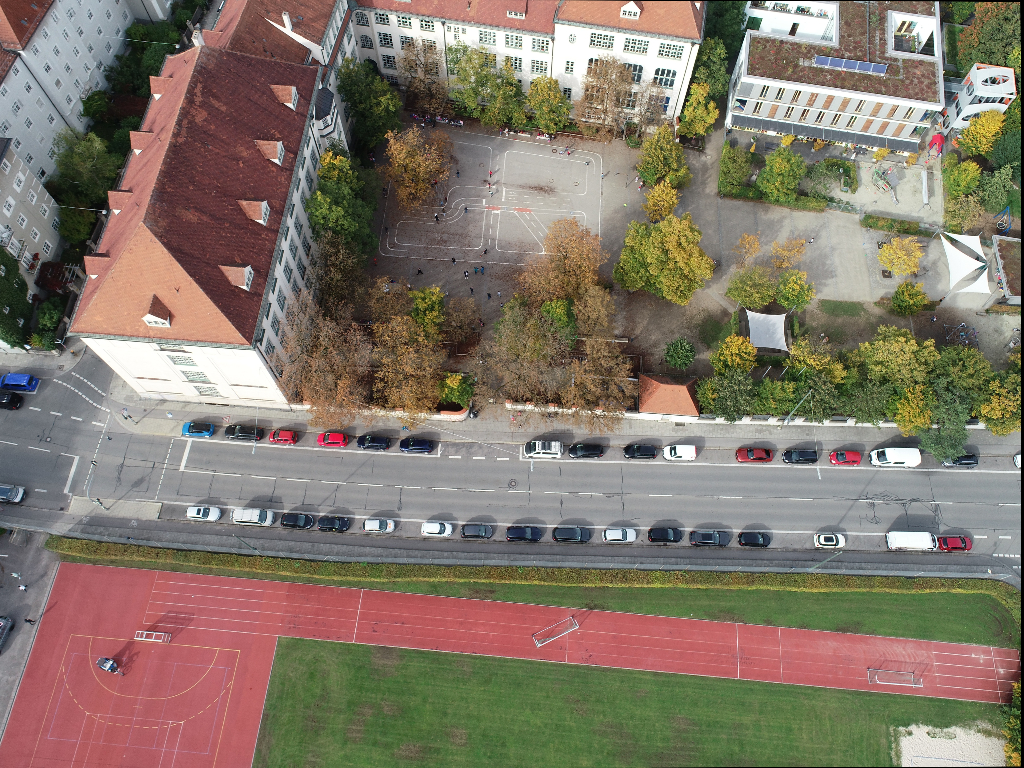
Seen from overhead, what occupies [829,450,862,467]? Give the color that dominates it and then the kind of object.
red car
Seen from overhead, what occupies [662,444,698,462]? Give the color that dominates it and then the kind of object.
white vehicle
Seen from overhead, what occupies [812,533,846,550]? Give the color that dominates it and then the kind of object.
white car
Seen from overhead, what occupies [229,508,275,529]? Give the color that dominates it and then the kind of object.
white vehicle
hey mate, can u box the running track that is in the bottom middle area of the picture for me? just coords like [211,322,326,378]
[144,570,1018,704]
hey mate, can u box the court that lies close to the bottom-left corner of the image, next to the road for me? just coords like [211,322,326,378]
[0,561,277,768]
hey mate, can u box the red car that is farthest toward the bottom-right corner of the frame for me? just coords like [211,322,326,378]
[936,535,972,553]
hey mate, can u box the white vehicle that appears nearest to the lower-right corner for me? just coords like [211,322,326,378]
[885,531,936,552]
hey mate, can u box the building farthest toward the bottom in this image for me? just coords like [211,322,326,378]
[638,370,700,425]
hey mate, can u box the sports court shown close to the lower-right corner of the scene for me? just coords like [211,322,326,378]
[889,721,1011,768]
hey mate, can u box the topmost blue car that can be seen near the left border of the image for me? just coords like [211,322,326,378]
[0,373,39,394]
